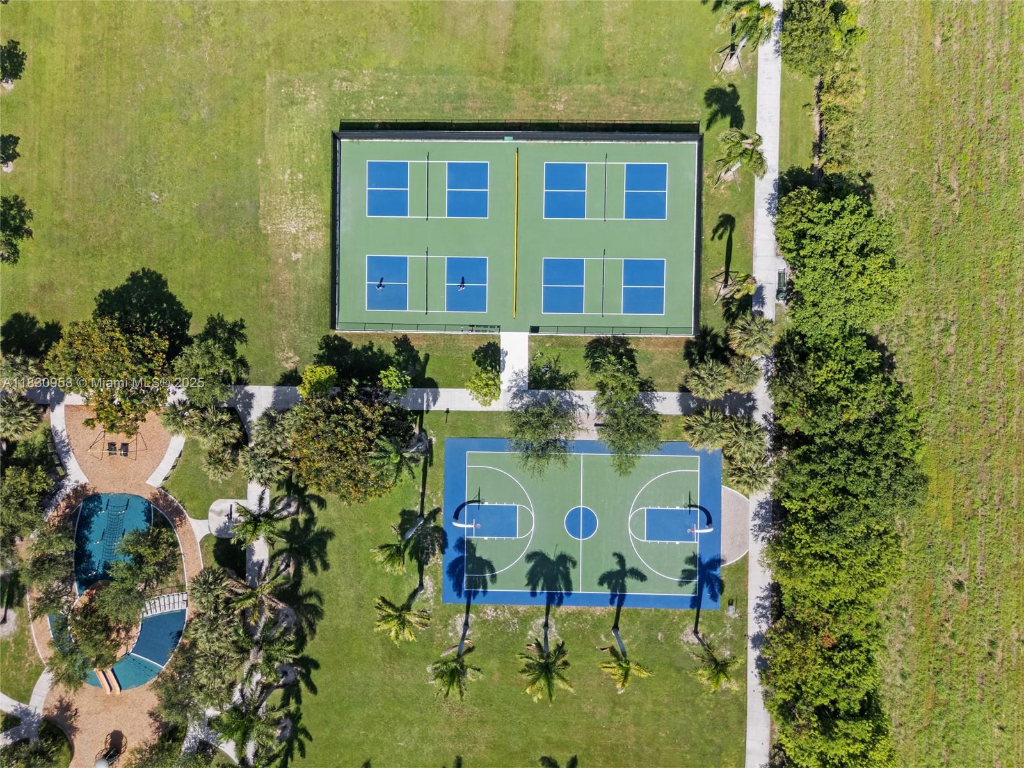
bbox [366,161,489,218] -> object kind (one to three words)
sports court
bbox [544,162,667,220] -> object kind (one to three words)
sports court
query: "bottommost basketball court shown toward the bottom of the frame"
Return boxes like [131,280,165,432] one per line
[443,438,722,610]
